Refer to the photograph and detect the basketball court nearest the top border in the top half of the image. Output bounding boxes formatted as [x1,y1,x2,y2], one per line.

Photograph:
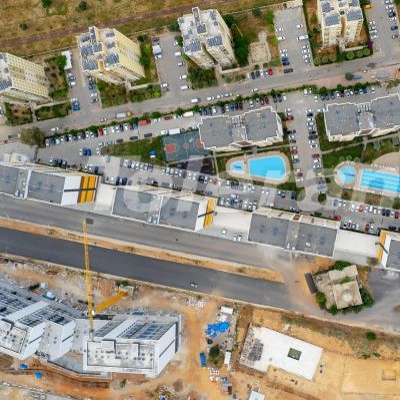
[162,129,207,162]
